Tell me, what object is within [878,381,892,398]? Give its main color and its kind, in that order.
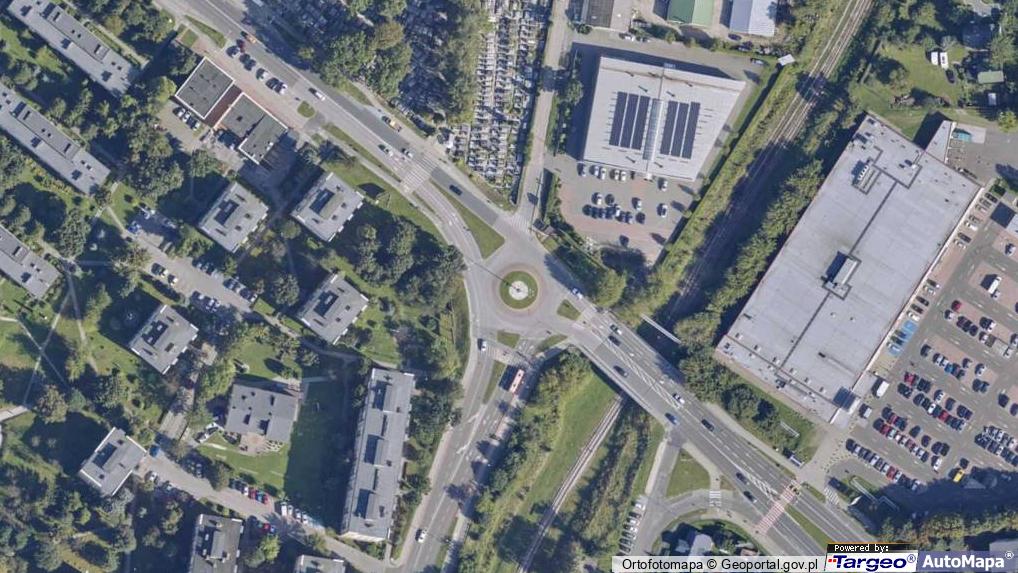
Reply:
white vehicle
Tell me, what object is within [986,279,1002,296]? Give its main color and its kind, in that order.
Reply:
white vehicle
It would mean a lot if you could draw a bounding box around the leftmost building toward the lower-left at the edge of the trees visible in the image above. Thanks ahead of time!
[79,426,149,498]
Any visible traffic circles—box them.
[471,243,566,336]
